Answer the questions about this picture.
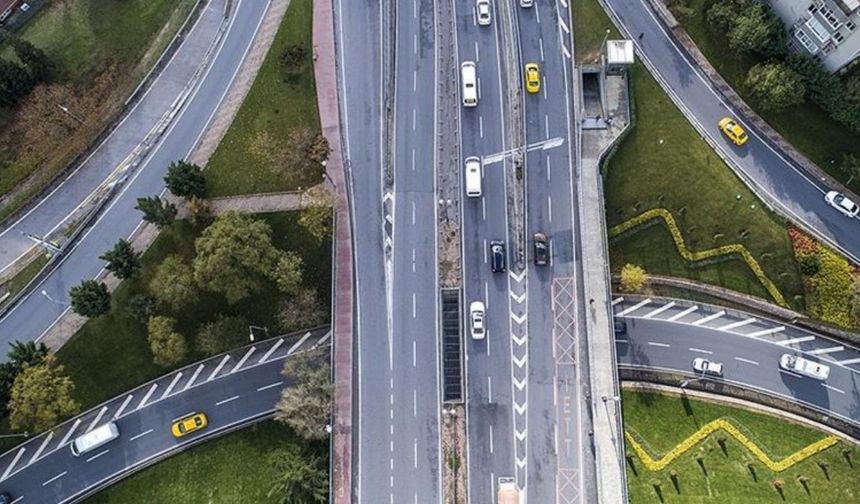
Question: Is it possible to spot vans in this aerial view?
Yes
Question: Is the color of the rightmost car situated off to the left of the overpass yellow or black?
yellow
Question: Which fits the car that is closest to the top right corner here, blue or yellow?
yellow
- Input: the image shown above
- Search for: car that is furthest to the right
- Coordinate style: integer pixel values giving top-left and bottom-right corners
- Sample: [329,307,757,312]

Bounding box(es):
[824,193,857,218]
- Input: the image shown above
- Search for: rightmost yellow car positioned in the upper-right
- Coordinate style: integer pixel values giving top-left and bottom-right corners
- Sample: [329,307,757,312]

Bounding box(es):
[718,118,747,146]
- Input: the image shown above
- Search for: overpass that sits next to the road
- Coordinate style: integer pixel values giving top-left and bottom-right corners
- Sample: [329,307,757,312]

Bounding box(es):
[311,0,627,504]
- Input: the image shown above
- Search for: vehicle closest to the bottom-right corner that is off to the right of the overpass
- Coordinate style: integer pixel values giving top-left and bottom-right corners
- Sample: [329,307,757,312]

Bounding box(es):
[773,354,831,381]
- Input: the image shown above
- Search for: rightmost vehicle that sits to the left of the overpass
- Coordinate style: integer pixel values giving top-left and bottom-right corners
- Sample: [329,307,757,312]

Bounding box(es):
[173,412,207,435]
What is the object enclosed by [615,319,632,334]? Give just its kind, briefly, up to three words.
car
